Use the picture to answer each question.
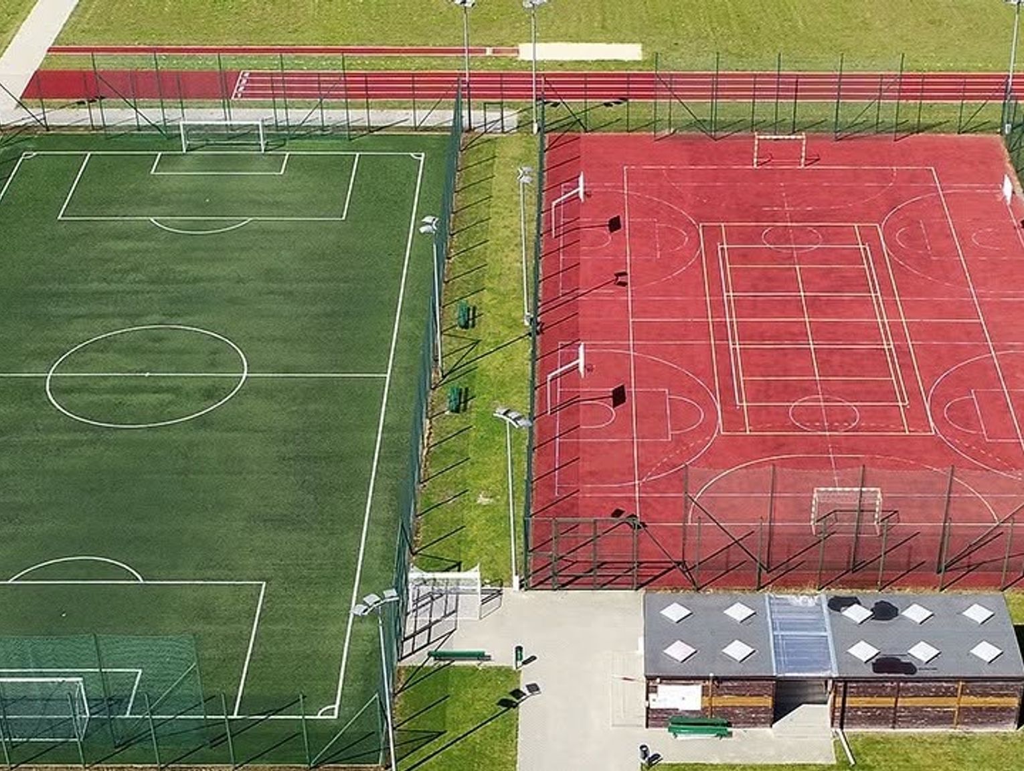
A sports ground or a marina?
sports ground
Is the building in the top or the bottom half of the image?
bottom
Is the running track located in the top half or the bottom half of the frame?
top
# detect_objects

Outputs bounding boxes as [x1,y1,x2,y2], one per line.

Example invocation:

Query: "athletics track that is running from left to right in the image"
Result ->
[20,70,1024,101]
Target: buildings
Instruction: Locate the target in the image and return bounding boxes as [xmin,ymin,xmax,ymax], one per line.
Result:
[638,590,1024,727]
